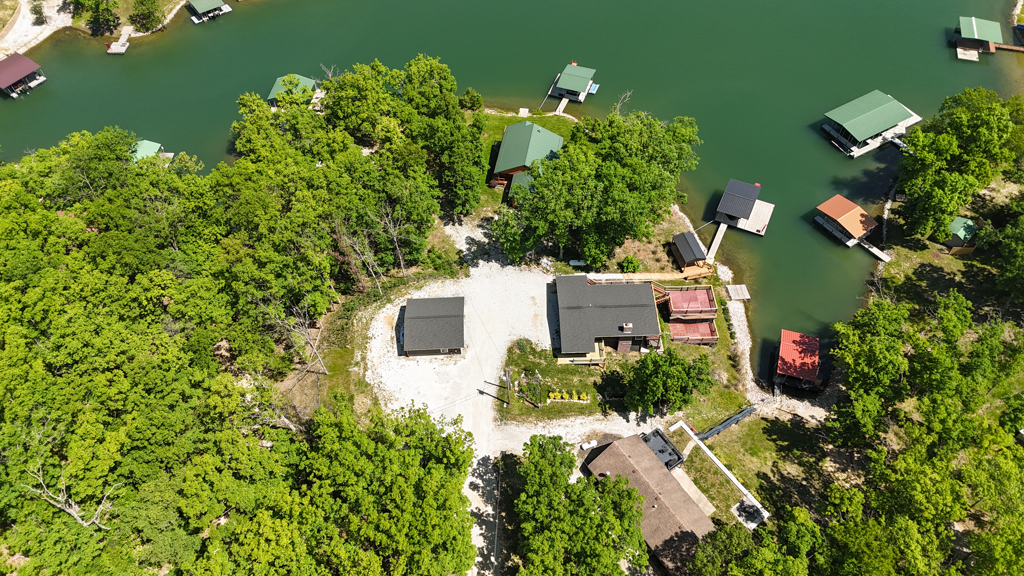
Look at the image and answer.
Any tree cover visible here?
Yes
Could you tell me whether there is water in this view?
Yes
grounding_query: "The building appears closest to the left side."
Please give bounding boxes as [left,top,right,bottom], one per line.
[404,298,465,356]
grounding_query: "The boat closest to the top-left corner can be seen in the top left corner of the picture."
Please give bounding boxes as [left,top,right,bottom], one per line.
[10,81,32,94]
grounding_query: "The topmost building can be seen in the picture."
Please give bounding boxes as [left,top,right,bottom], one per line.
[495,118,564,201]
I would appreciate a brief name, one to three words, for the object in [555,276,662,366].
house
